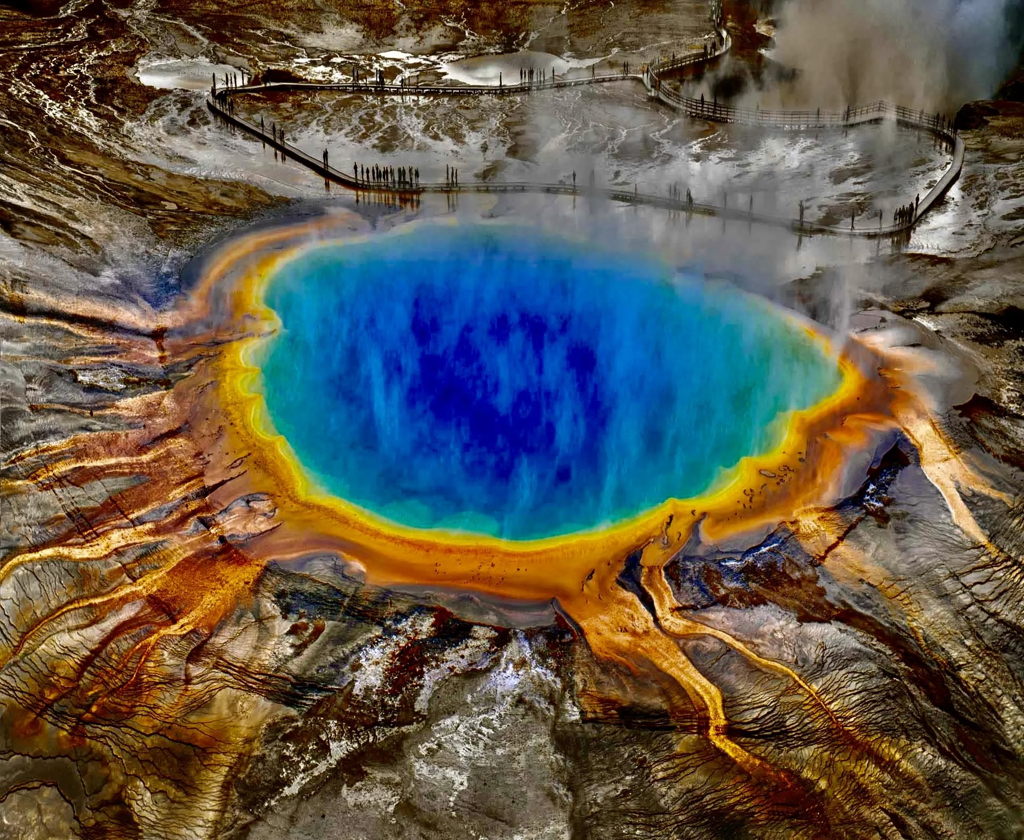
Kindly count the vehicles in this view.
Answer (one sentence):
The photo contains no vehicles.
